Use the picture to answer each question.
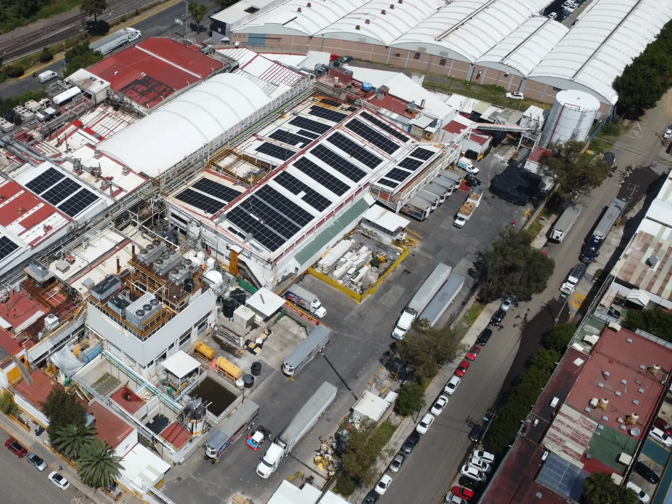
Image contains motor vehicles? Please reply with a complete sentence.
Yes, the photo shows a motor vehicle.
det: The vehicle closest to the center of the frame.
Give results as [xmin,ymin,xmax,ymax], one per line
[286,284,326,320]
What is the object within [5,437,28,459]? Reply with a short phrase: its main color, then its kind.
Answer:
red car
